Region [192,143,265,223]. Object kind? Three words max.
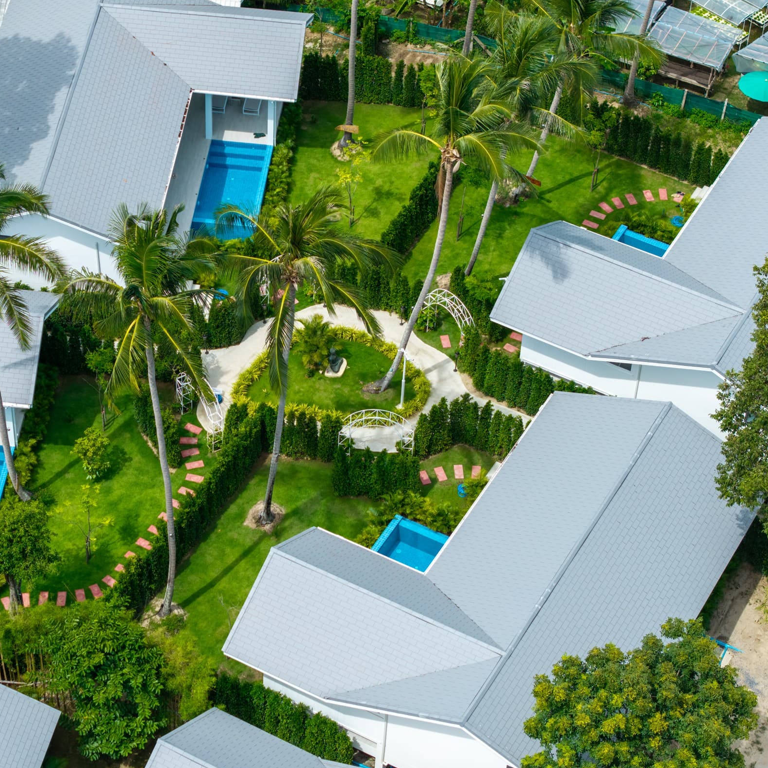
swimming pool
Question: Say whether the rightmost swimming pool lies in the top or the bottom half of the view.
top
